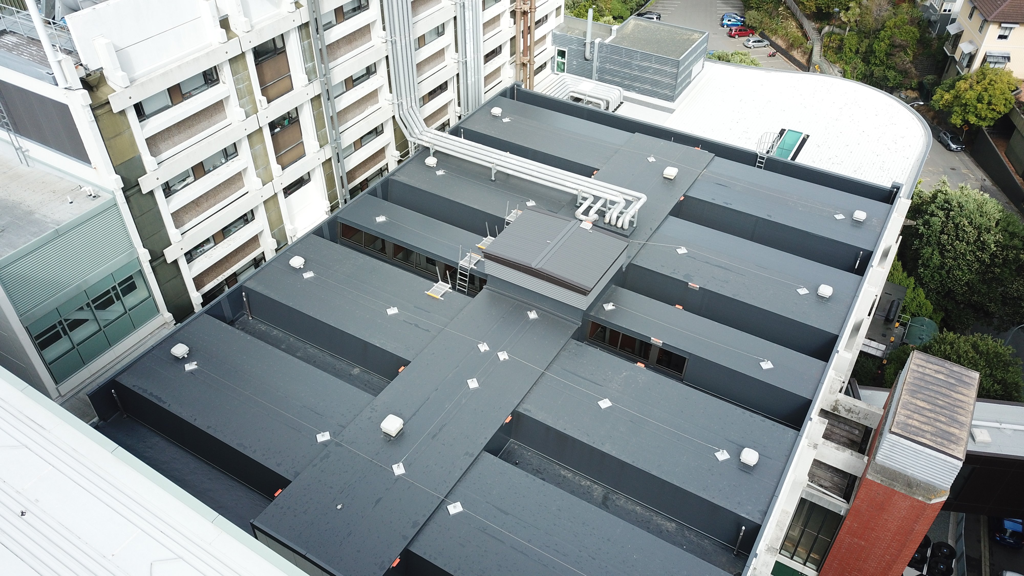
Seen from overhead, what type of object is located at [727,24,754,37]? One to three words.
vehicle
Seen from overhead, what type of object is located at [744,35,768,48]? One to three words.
vehicle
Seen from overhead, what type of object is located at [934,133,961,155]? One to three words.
car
